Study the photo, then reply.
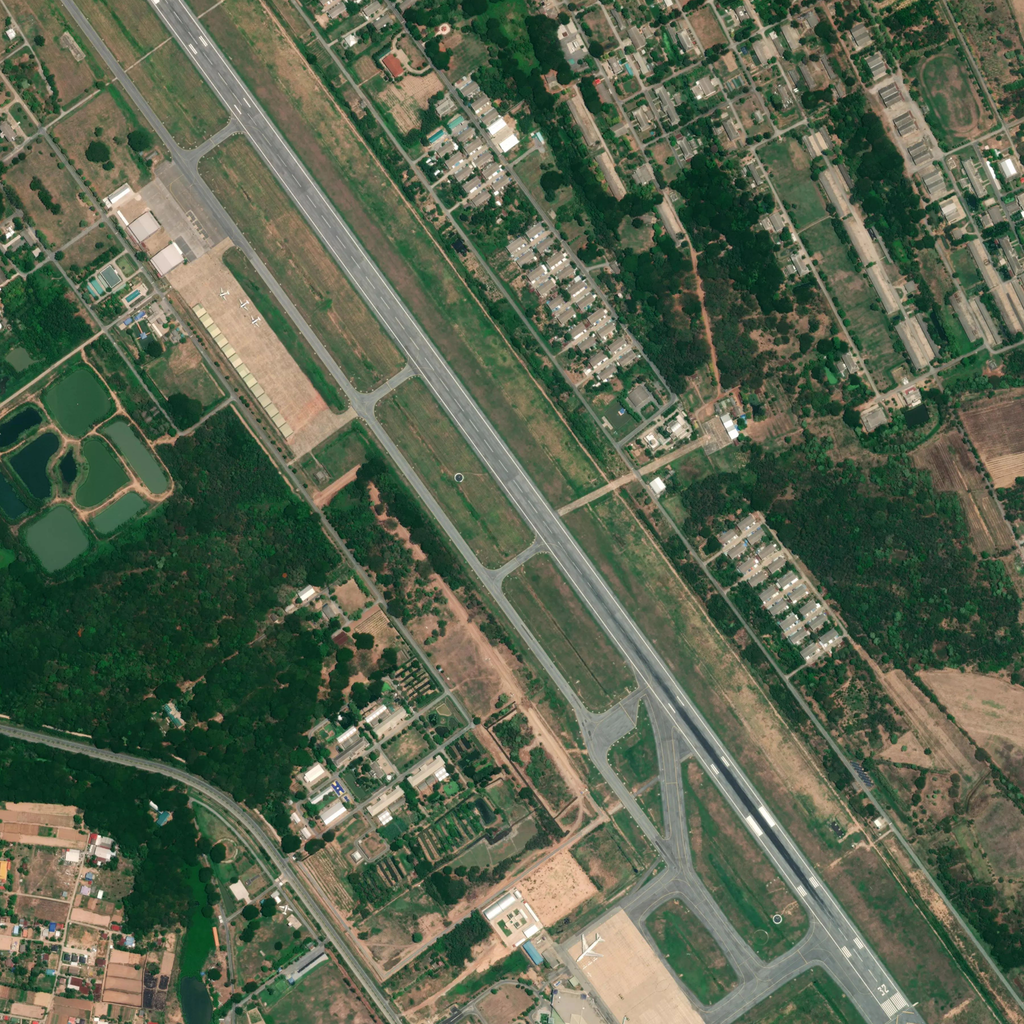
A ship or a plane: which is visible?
plane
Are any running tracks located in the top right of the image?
Yes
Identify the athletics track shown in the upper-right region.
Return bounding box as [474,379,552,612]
[919,52,984,137]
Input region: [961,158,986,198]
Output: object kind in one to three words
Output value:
house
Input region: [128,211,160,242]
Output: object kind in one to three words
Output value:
hangar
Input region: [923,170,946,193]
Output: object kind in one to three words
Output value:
building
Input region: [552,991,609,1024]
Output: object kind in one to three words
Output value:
building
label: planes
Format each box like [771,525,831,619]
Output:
[576,933,605,962]
[280,905,292,914]
[252,315,261,327]
[220,287,230,301]
[240,298,249,310]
